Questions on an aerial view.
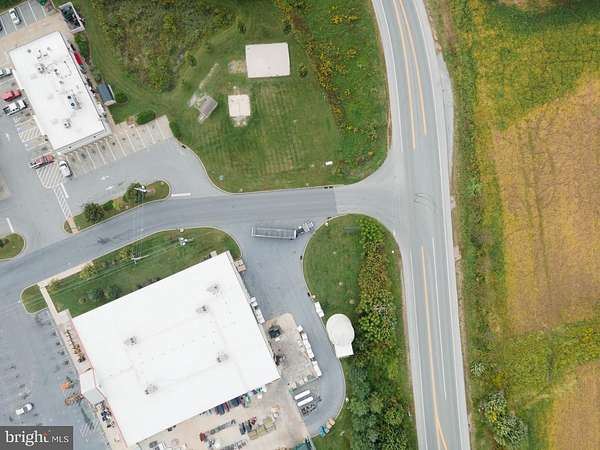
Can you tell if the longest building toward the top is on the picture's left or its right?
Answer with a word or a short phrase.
left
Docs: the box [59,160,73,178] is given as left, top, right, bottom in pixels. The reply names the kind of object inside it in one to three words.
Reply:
car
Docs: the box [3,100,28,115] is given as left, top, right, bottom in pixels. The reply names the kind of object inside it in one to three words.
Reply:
vehicle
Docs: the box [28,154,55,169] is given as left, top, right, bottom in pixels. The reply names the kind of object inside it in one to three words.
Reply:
vehicle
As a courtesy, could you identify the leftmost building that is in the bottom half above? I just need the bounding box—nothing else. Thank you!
[71,250,283,446]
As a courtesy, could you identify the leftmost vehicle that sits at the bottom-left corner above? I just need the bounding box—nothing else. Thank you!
[14,401,35,415]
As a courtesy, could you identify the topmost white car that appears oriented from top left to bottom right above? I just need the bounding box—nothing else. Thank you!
[9,8,23,26]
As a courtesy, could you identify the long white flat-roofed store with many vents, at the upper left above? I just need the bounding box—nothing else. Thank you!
[11,30,110,155]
